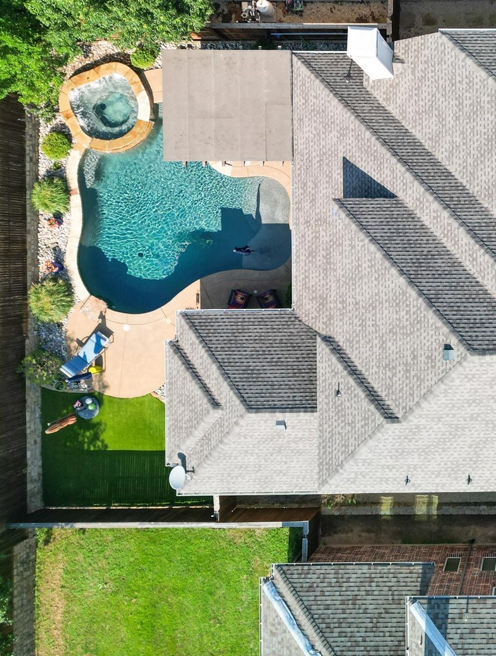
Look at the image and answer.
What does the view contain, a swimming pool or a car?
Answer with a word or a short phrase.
swimming pool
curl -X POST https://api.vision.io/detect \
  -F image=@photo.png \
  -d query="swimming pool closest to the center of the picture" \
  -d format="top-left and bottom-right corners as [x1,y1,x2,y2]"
[66,104,290,314]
